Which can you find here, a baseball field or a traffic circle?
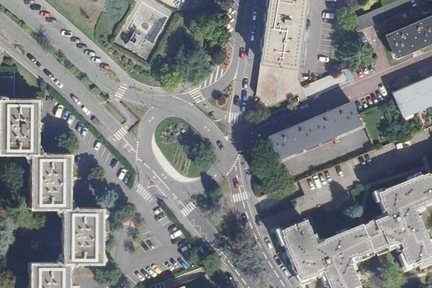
traffic circle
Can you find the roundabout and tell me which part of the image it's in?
center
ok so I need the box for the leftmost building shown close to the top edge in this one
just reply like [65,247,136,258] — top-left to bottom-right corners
[114,0,174,62]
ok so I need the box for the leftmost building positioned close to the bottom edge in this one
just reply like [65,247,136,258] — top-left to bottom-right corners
[26,262,76,288]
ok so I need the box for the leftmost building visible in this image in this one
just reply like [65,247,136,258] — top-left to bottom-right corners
[0,98,44,158]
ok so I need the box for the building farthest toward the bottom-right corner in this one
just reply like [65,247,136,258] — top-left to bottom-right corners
[280,169,432,288]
